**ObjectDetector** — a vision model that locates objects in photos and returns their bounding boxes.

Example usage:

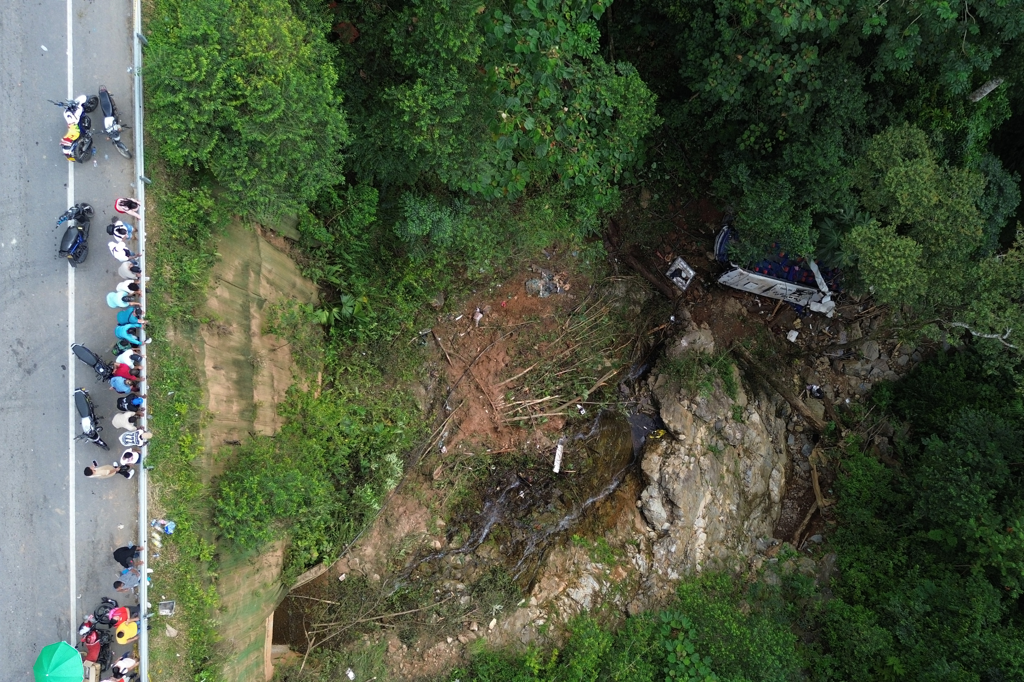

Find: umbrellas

[32,639,86,682]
